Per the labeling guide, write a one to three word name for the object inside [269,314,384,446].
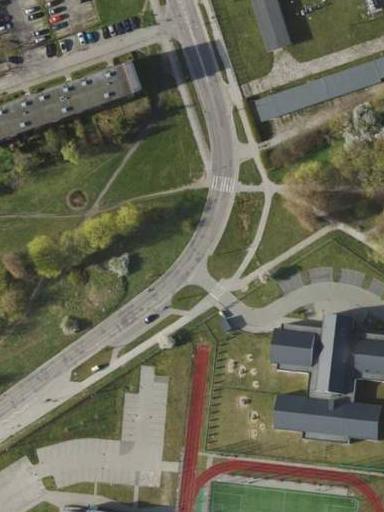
building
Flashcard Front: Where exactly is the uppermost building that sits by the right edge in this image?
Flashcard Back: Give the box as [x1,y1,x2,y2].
[255,58,384,121]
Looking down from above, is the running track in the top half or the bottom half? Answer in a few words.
bottom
